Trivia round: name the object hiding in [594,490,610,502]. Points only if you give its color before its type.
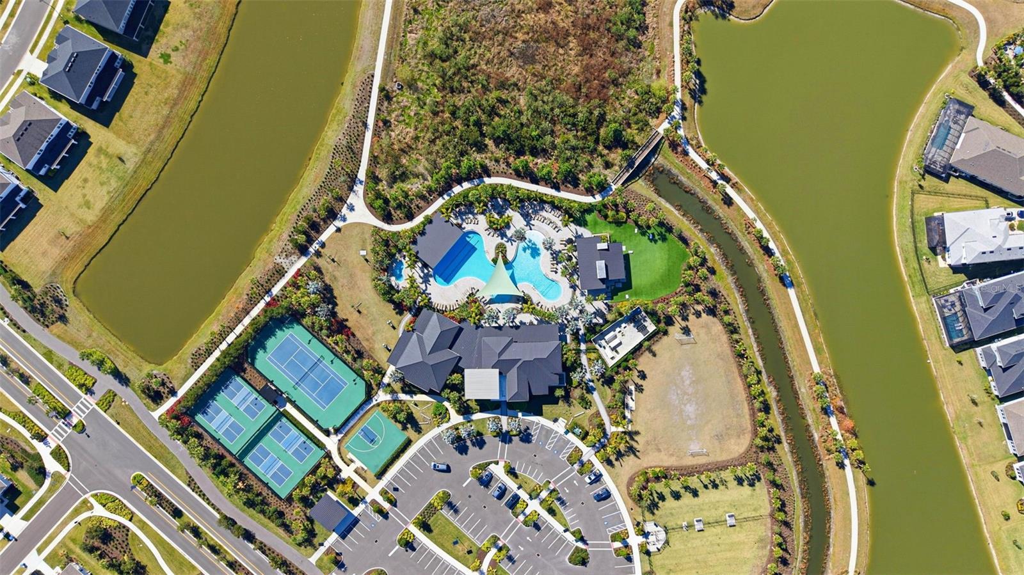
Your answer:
blue vehicle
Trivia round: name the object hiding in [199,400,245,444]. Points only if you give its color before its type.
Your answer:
blue sports court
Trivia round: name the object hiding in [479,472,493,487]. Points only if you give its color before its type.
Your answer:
blue car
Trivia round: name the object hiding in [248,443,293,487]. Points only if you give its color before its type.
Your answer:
blue sports court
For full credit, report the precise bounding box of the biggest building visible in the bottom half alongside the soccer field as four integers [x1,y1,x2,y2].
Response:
[387,307,566,402]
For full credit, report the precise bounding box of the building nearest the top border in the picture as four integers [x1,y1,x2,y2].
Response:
[73,0,162,41]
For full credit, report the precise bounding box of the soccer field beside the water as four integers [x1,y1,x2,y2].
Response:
[602,314,751,530]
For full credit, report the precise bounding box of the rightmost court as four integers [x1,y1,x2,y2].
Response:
[345,410,408,474]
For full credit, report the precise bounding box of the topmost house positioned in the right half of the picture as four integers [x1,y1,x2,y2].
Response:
[946,116,1024,199]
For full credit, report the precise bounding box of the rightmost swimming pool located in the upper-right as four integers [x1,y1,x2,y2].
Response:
[932,120,951,151]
